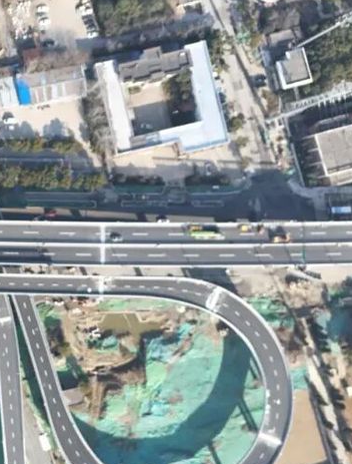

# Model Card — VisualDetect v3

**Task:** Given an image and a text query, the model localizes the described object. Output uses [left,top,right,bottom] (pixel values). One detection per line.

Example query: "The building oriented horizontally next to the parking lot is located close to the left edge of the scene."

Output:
[17,63,90,103]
